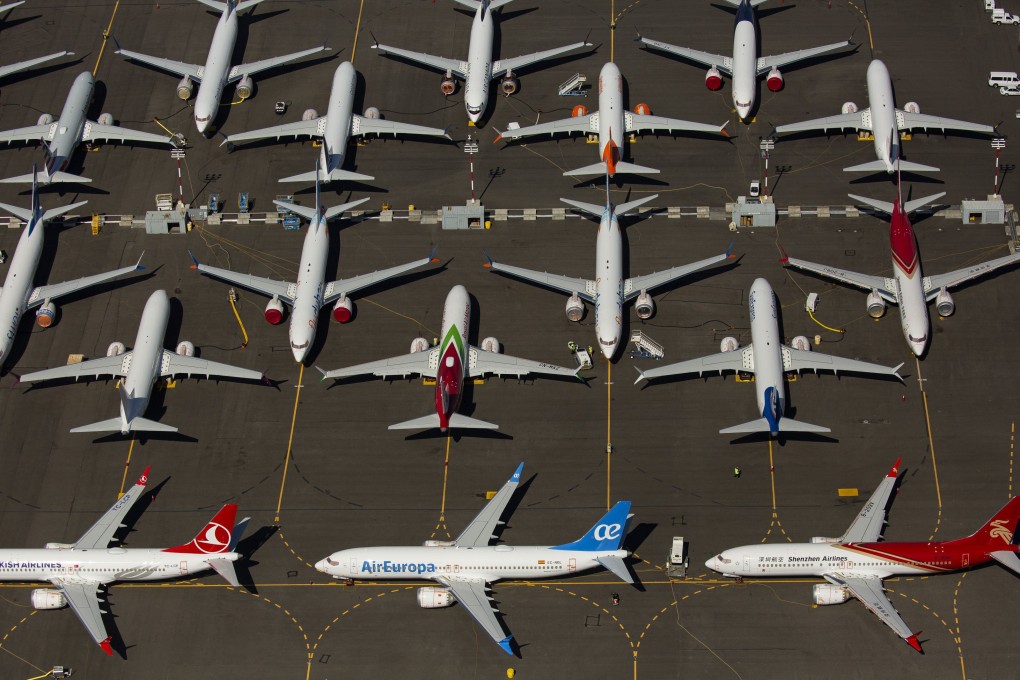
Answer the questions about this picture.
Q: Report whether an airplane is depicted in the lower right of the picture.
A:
Yes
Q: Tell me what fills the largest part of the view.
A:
paved ground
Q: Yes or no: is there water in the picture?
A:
No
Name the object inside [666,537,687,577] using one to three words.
vehicle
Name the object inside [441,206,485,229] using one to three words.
shed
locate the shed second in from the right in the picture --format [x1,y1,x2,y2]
[732,203,776,227]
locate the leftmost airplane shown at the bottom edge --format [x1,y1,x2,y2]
[0,465,250,657]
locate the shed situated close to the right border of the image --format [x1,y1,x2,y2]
[961,200,1005,224]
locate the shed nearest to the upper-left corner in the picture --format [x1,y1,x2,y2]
[143,211,188,234]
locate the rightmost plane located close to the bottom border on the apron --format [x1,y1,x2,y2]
[706,458,1020,653]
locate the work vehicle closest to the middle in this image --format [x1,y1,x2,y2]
[575,344,594,366]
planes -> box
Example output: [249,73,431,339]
[483,158,734,360]
[636,283,904,434]
[113,0,331,133]
[494,63,728,177]
[318,283,584,432]
[8,286,272,434]
[706,458,1020,653]
[371,0,592,125]
[316,461,635,655]
[0,465,250,657]
[778,156,1020,358]
[189,160,438,362]
[0,165,149,366]
[635,0,857,122]
[0,72,177,185]
[767,60,1004,174]
[218,69,451,183]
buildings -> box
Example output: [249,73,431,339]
[732,203,776,227]
[441,206,485,229]
[961,200,1005,224]
[143,211,188,234]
